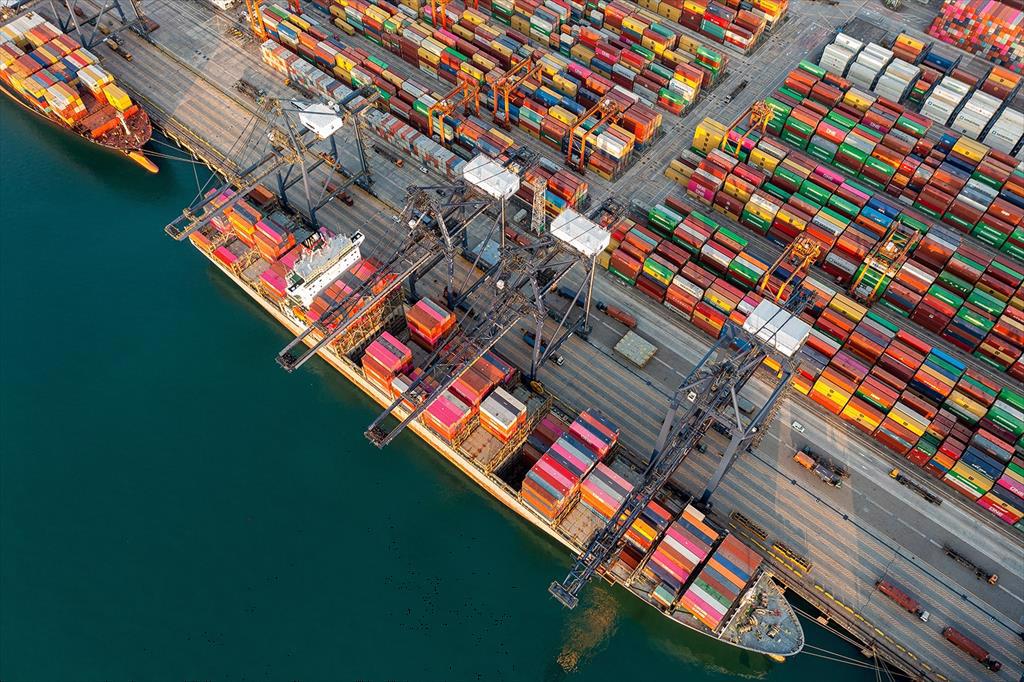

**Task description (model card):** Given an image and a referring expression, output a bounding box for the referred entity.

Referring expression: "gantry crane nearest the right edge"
[844,219,921,307]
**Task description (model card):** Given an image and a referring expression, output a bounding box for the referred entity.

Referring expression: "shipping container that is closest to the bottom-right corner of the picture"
[947,629,993,664]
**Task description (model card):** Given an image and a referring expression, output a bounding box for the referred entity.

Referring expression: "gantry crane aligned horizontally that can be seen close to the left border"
[34,0,136,36]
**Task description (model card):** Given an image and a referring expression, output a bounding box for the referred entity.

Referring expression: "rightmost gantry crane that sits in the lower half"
[548,297,811,610]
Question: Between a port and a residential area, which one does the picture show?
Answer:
port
